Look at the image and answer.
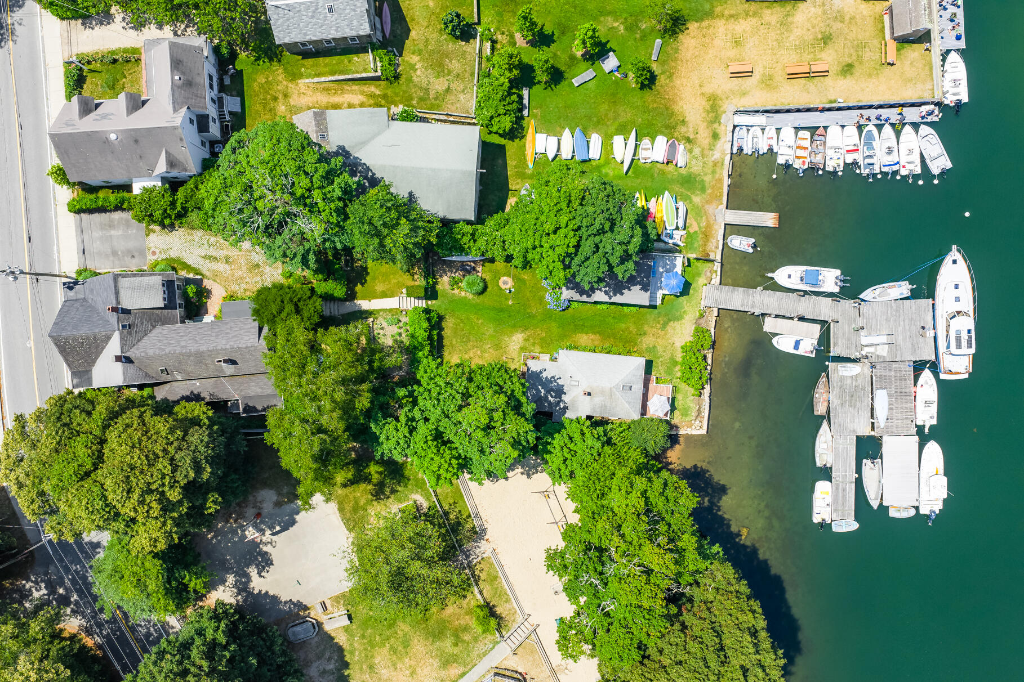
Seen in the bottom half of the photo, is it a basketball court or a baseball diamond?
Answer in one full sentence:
The feature located in the bottom half of the photo is a basketball court.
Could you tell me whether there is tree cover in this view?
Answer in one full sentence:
Yes, there's tree cover in this view.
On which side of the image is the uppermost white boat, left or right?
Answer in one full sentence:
You can find the uppermost white boat on the right side of the picture.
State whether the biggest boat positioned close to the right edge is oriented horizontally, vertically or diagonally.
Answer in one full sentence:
Seen from above, the biggest boat positioned close to the right edge lies vertically.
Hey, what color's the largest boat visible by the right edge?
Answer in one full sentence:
The largest boat visible by the right edge is white.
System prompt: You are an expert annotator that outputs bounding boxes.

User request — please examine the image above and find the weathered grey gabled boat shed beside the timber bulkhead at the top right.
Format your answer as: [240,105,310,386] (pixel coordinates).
[877,0,932,48]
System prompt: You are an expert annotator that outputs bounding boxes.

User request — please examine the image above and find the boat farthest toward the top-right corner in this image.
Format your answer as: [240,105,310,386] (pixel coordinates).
[942,48,967,118]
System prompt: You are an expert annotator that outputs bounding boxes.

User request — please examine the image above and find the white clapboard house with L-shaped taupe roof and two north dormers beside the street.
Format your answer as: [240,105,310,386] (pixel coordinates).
[48,36,241,196]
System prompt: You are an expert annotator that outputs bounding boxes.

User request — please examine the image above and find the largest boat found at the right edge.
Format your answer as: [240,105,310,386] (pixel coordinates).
[933,241,979,379]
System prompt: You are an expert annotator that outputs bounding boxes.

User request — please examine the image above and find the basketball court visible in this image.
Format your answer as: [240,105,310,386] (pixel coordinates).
[194,489,352,622]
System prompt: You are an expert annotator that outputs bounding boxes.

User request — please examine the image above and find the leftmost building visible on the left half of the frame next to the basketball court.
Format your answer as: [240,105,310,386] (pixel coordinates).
[49,272,287,416]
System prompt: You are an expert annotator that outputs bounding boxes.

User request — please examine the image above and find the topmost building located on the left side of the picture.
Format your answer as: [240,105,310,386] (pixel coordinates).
[265,0,376,53]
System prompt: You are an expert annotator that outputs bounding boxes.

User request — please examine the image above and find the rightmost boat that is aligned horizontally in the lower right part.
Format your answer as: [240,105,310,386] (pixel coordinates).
[887,506,916,518]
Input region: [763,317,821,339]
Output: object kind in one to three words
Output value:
pier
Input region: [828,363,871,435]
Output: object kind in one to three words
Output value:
pier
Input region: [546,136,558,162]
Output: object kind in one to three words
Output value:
boat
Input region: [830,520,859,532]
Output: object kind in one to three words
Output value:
boat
